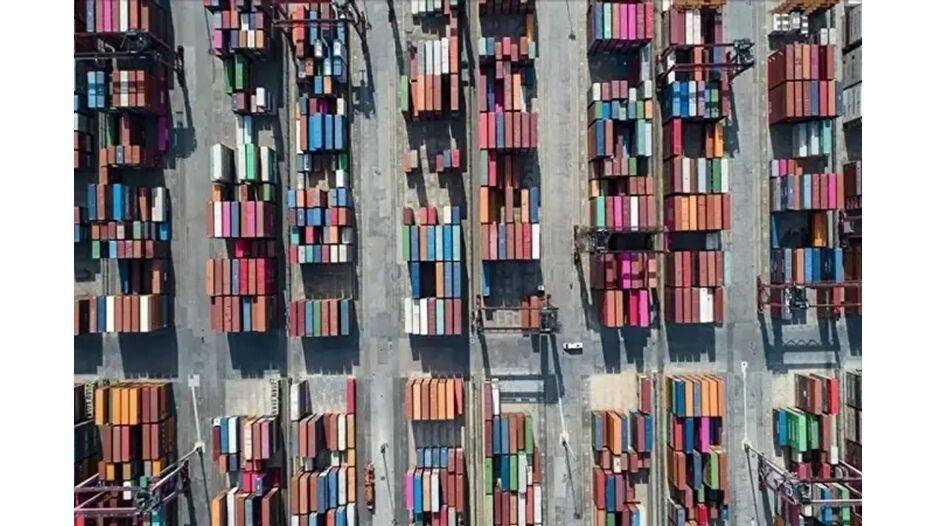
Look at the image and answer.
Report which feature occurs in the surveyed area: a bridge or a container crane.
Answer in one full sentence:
It is a container crane that can be seen here.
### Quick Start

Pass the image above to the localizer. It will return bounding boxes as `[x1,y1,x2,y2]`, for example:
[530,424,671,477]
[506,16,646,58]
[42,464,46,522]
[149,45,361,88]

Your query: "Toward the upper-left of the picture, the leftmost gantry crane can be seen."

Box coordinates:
[63,31,182,79]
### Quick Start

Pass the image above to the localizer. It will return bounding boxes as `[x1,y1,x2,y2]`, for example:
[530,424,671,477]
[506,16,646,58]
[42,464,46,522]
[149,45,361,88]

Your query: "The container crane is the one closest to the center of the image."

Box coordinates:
[468,292,558,336]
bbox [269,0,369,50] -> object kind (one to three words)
container crane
